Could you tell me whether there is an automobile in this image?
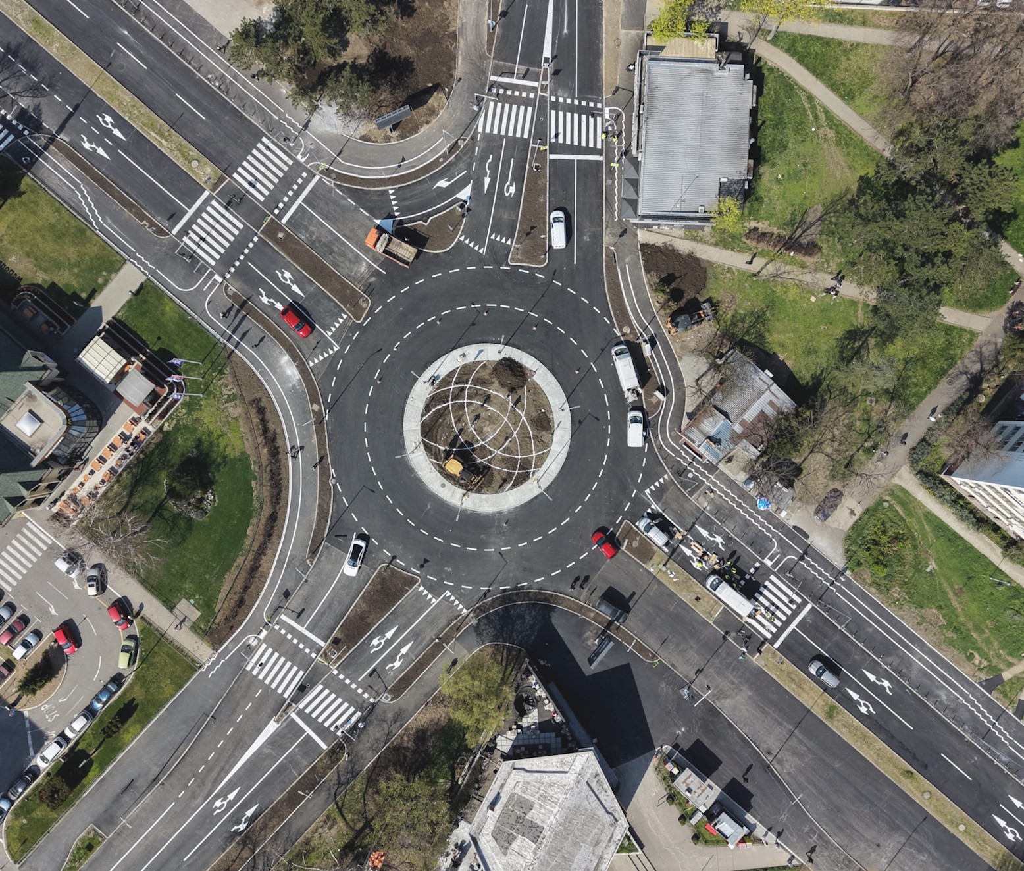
Yes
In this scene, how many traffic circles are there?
one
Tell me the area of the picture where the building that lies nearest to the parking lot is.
left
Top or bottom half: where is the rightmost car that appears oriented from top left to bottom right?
bottom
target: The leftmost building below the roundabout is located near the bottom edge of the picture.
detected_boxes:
[469,675,629,871]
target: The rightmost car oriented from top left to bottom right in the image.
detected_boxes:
[806,658,842,691]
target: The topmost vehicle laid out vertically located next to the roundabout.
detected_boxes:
[549,211,568,250]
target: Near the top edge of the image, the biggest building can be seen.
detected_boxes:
[622,32,757,235]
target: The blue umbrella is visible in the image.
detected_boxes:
[756,496,770,511]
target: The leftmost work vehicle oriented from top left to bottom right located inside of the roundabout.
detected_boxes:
[435,448,487,491]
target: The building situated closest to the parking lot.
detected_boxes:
[0,322,111,532]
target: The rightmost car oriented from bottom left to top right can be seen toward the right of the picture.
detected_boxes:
[813,484,846,522]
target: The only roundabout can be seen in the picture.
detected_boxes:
[316,253,658,609]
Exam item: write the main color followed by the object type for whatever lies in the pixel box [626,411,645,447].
white vehicle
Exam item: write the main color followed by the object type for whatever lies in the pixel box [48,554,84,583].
white car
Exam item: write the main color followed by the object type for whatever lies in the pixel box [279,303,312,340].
red car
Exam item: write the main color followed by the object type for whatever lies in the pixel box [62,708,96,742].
white car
